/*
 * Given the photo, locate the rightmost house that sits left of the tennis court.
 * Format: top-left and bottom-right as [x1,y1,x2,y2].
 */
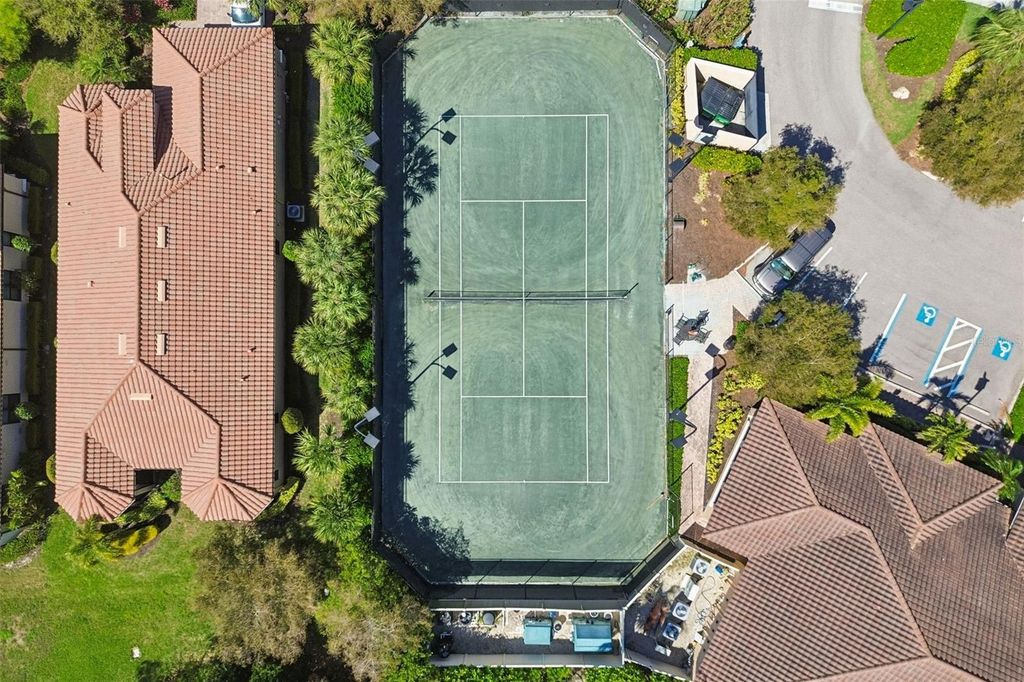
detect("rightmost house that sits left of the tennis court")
[54,24,286,522]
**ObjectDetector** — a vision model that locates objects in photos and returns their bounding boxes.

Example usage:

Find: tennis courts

[382,13,668,585]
